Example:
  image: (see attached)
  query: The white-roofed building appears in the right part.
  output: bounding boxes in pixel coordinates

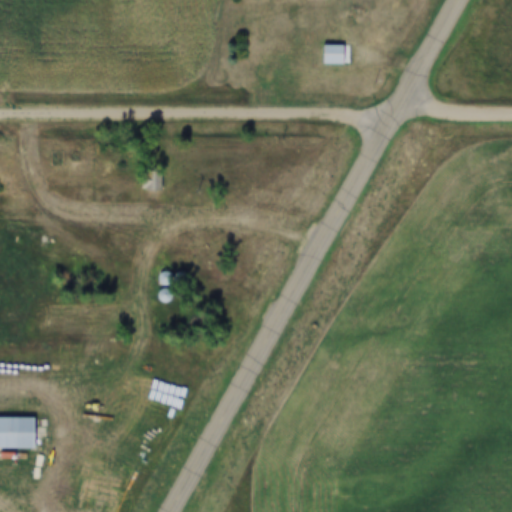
[324,44,345,64]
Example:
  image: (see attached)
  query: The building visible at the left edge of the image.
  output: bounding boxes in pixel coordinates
[0,417,36,450]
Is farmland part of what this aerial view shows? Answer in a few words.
Yes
